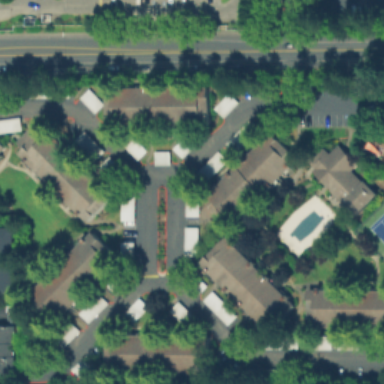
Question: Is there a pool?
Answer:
Yes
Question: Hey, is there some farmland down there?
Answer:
No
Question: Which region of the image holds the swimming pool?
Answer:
right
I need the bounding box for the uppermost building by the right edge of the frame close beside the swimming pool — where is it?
[308,142,372,212]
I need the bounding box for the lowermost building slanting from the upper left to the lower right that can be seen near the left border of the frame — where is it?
[16,132,102,222]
